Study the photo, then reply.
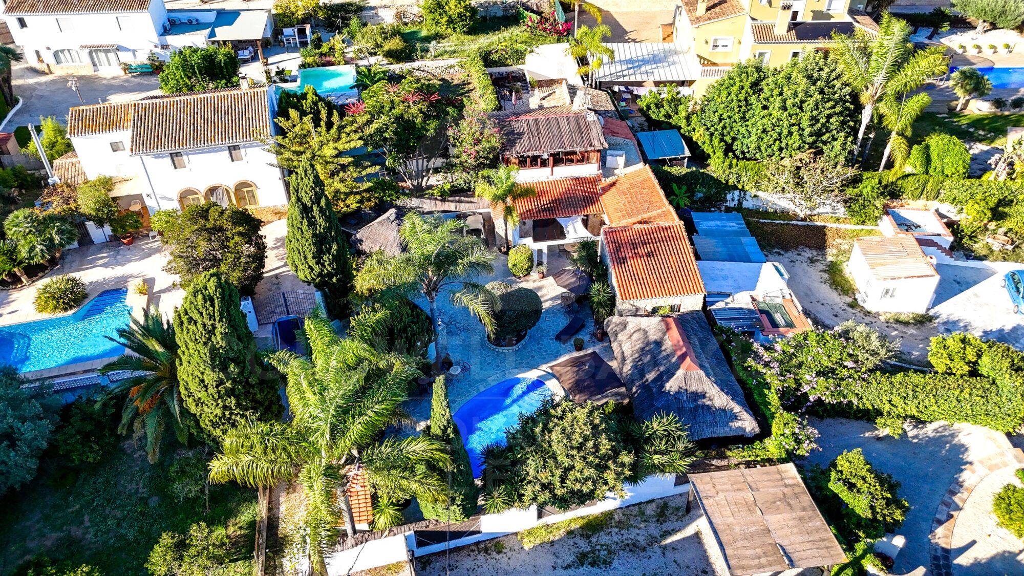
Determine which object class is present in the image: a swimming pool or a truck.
swimming pool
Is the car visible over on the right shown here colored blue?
Yes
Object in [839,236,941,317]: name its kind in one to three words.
shed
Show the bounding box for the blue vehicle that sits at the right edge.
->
[1004,266,1024,314]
